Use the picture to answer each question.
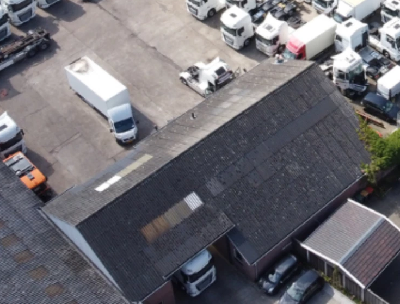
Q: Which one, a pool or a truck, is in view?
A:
truck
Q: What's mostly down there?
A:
buildings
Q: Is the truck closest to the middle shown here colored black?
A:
No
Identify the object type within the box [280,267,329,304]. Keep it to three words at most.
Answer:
car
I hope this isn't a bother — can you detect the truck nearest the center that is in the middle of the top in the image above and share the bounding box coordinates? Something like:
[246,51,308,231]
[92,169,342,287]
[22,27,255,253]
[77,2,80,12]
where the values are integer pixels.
[179,54,236,97]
